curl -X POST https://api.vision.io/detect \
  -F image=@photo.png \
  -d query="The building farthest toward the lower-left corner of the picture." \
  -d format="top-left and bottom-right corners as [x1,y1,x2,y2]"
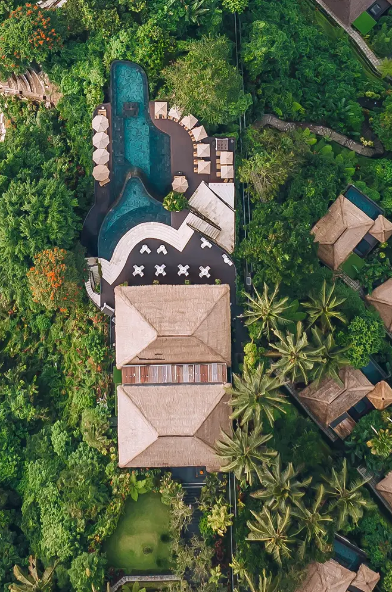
[116,381,233,469]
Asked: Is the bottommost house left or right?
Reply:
right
